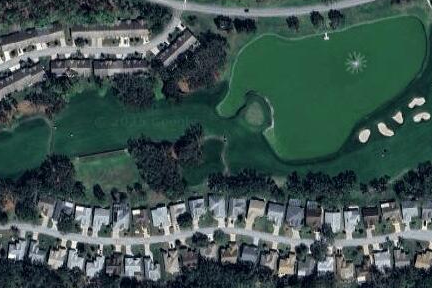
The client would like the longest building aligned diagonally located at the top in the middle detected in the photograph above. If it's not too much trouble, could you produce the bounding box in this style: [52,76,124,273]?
[157,32,199,64]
